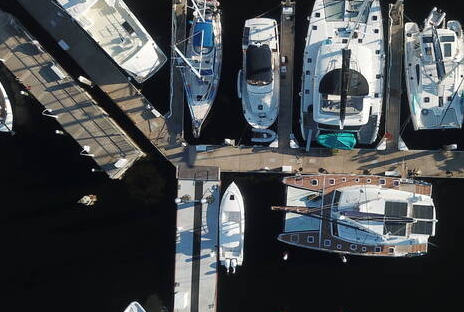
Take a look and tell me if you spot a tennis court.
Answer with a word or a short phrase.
No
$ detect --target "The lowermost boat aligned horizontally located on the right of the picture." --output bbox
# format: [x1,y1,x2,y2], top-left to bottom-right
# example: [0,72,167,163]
[272,171,438,258]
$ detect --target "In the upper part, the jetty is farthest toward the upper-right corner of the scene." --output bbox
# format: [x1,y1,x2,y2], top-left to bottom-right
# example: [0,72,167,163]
[386,2,403,150]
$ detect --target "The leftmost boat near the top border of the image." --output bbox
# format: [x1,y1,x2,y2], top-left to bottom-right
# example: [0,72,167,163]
[51,0,167,82]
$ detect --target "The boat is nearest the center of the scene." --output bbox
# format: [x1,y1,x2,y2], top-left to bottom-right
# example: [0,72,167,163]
[249,127,274,142]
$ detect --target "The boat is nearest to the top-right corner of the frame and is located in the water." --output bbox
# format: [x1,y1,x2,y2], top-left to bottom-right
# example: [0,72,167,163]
[425,2,448,29]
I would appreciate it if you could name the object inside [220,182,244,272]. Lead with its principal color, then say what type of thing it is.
white boat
